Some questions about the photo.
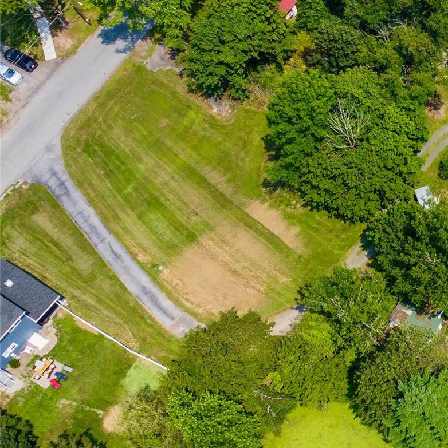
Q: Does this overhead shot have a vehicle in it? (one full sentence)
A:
Yes, there's a vehicle here.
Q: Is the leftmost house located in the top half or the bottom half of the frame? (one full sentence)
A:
The leftmost house sits in the bottom half of the picture.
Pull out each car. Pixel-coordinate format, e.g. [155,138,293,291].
[0,45,42,74]
[0,64,29,88]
